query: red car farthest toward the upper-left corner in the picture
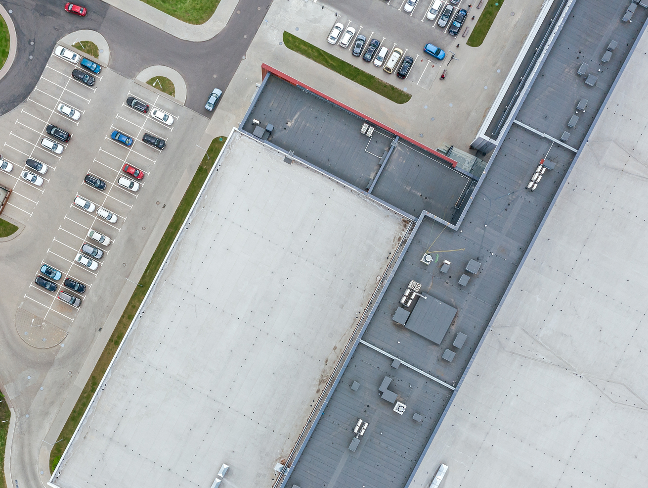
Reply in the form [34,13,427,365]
[64,2,88,18]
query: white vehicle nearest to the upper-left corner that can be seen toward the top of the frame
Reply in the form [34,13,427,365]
[55,46,81,65]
